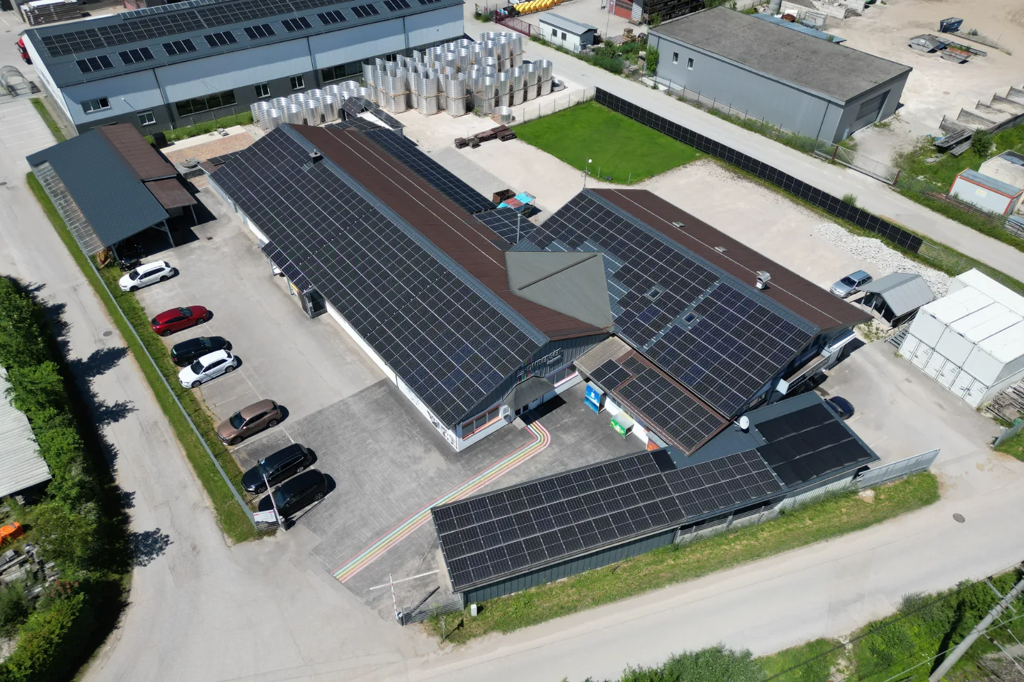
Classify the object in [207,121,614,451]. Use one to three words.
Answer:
building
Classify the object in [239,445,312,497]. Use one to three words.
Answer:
car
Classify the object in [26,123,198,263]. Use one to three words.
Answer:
shed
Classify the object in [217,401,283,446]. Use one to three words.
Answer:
car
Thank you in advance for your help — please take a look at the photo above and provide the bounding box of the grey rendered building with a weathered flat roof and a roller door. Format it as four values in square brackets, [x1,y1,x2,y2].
[646,6,917,147]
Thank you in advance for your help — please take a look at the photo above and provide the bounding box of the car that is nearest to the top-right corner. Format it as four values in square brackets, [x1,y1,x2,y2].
[832,266,874,297]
